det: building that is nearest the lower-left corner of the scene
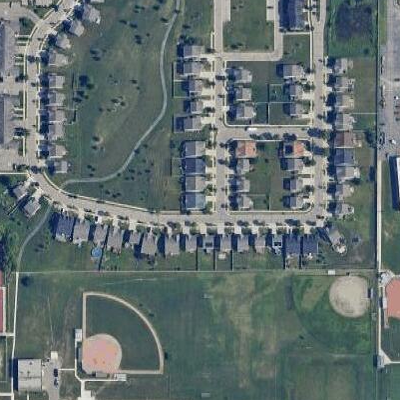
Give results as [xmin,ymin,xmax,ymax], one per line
[18,359,42,391]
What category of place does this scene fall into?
residential area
